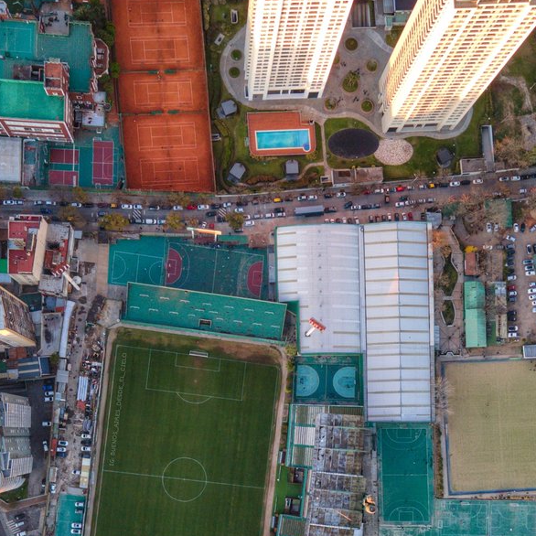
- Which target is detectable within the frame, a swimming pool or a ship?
swimming pool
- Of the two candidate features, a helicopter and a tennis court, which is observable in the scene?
tennis court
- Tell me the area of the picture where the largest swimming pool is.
top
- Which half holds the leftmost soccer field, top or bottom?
bottom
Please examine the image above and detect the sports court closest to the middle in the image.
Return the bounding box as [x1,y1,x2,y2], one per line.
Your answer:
[164,236,276,300]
